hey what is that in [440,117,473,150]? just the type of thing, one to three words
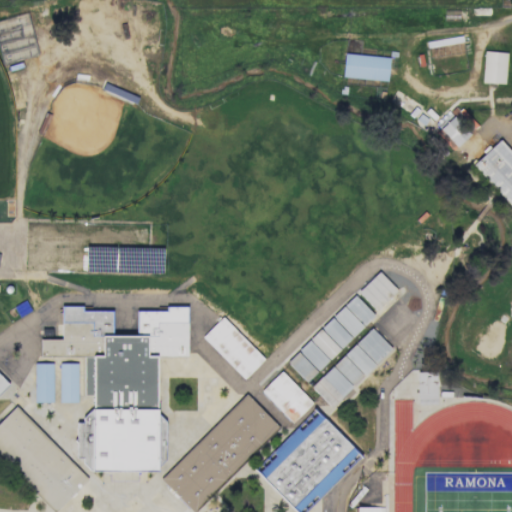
house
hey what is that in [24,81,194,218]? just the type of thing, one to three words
baseball field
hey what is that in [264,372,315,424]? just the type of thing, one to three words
building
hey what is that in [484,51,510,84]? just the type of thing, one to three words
barn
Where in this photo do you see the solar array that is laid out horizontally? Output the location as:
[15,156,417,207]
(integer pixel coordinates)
[88,248,165,273]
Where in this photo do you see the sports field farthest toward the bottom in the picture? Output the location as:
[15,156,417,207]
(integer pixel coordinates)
[414,467,512,512]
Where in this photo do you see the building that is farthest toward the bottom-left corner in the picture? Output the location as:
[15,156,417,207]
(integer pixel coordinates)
[0,405,90,512]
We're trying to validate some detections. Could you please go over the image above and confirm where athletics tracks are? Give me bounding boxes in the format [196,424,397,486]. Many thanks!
[396,400,512,512]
